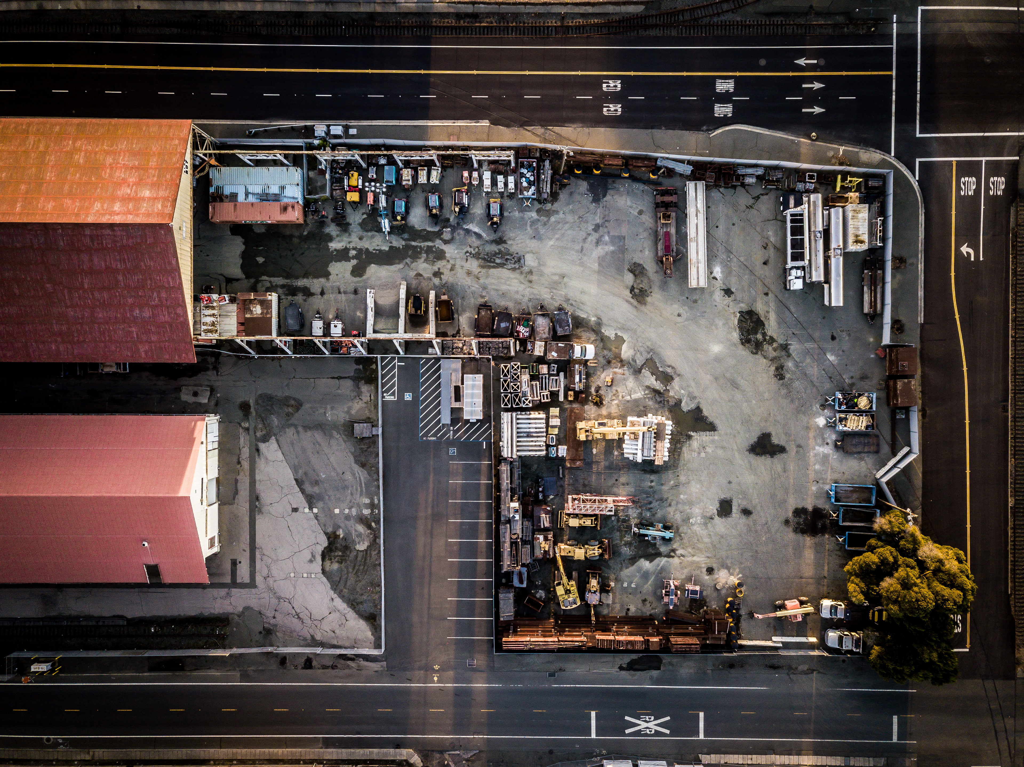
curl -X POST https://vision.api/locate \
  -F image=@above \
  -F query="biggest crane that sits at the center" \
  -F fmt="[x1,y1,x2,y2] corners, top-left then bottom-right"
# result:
[576,419,658,440]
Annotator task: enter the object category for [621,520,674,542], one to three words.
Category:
work vehicle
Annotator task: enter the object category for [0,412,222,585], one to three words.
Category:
shed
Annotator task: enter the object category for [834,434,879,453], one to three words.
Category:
trailer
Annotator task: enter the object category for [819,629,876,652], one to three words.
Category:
truck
